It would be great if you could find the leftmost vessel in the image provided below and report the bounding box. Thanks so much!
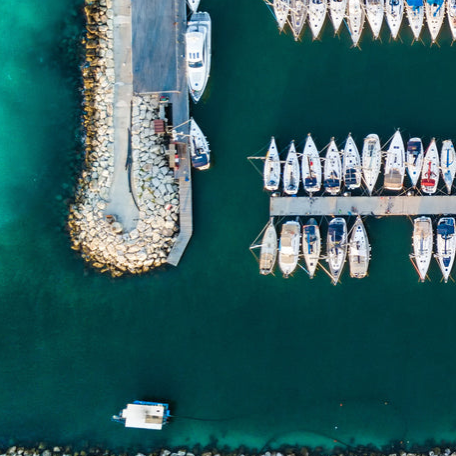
[114,403,172,432]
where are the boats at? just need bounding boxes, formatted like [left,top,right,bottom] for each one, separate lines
[420,133,441,195]
[341,213,371,281]
[272,139,302,197]
[184,9,211,102]
[439,136,456,194]
[288,128,327,197]
[422,0,444,49]
[403,137,424,194]
[246,213,278,276]
[380,0,404,38]
[443,0,456,43]
[333,131,364,193]
[249,131,283,197]
[167,117,208,171]
[277,214,301,283]
[320,0,347,38]
[315,136,343,195]
[289,214,323,283]
[335,0,365,46]
[353,130,383,195]
[360,0,385,39]
[296,0,327,45]
[407,213,436,284]
[262,0,290,32]
[314,214,349,287]
[384,122,406,191]
[276,0,308,46]
[404,0,425,45]
[433,213,456,289]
